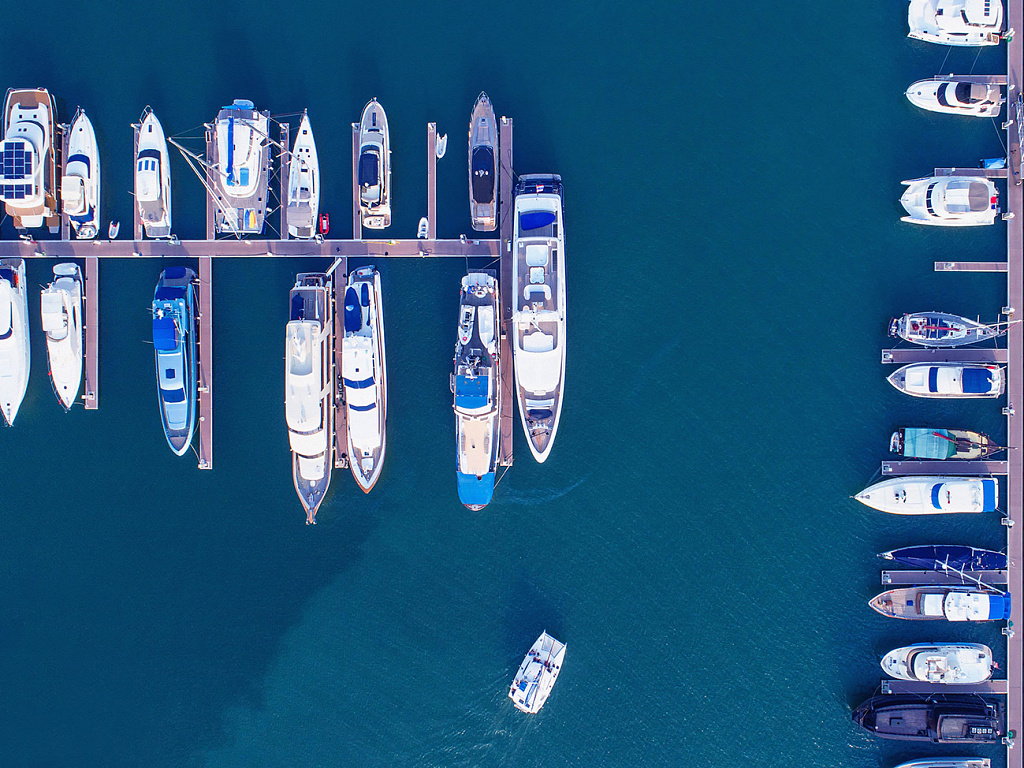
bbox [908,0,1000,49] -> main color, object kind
white boat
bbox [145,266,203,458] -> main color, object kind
blue boat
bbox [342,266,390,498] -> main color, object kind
white boat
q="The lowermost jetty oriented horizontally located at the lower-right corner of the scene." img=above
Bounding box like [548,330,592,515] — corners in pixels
[880,680,1007,694]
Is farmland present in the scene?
No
